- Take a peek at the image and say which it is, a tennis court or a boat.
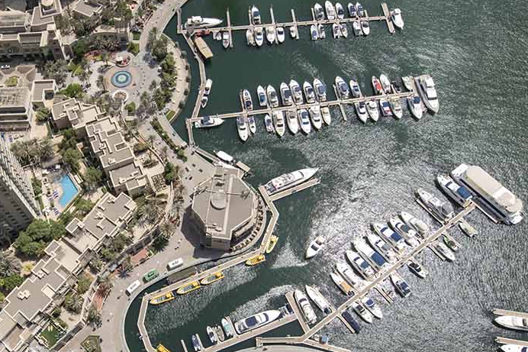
boat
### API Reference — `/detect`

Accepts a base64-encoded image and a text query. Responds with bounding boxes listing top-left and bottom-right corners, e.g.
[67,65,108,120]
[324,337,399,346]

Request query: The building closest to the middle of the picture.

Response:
[192,170,265,254]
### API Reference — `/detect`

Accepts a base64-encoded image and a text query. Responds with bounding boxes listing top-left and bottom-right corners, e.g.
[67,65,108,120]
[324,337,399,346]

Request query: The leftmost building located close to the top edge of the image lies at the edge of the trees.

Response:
[0,0,69,58]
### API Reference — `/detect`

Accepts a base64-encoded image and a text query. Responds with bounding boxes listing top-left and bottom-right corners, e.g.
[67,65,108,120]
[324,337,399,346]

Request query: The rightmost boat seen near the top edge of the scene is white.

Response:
[391,8,404,29]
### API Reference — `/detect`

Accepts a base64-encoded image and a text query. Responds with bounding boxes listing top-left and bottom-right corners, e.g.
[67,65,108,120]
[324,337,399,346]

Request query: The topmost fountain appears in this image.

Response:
[111,70,132,88]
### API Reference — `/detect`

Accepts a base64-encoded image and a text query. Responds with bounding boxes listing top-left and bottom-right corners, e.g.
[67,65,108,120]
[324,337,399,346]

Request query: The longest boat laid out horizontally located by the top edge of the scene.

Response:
[185,15,223,30]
